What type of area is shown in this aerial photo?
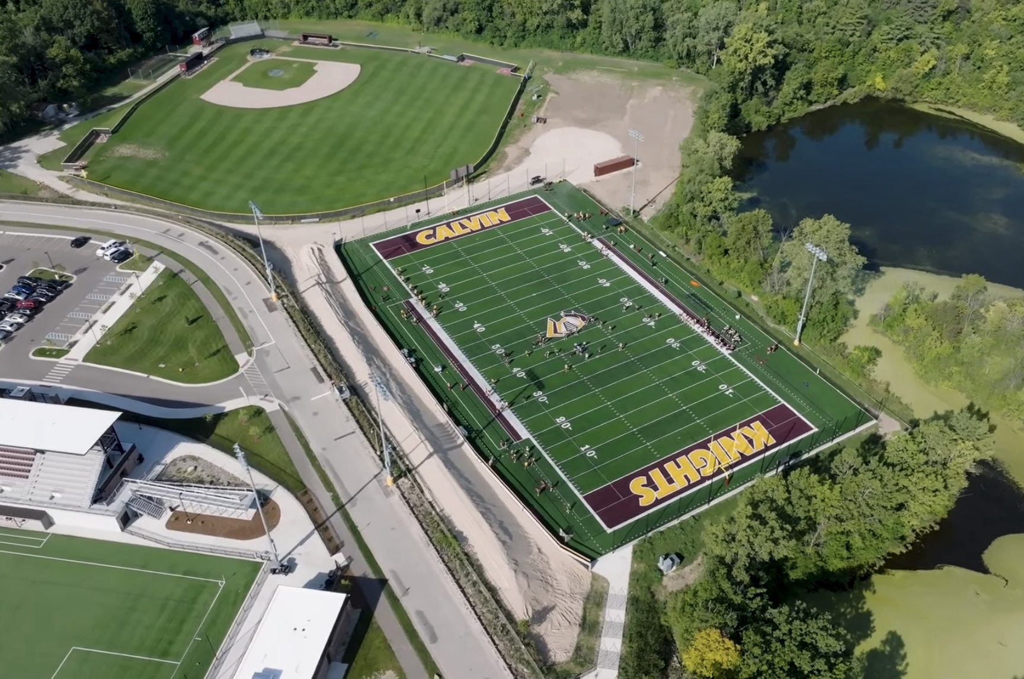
sports ground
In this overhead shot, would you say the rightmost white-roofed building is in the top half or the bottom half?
bottom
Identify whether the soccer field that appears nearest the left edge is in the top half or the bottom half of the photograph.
bottom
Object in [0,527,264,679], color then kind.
green soccer field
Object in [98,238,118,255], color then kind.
white vehicle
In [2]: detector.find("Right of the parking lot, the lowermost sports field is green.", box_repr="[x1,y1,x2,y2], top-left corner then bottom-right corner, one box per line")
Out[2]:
[342,180,877,562]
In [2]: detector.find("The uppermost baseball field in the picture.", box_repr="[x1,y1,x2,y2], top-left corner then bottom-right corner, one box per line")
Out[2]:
[77,35,520,214]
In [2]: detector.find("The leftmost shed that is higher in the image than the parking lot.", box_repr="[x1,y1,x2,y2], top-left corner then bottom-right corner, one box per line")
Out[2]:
[34,102,61,119]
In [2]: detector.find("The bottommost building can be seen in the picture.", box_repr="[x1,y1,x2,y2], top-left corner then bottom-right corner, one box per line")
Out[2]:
[234,584,349,679]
